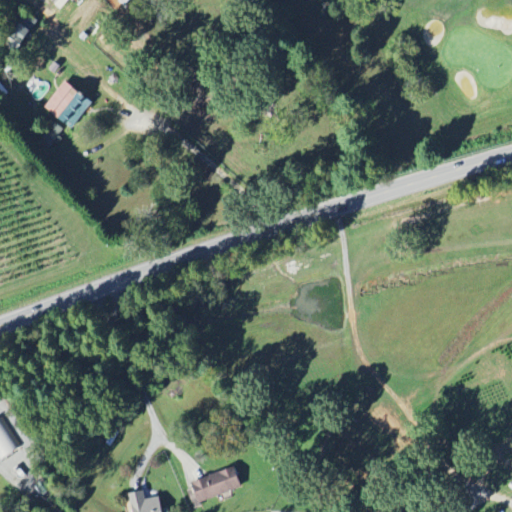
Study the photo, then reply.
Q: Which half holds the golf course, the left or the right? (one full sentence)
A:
The golf course appears in the right half of the scene.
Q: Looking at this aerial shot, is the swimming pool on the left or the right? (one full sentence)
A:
You can find the swimming pool on the left side of the picture.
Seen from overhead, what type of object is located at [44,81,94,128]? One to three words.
house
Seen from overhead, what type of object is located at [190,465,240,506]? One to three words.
house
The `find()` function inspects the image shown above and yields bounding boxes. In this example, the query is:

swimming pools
[27,76,50,101]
